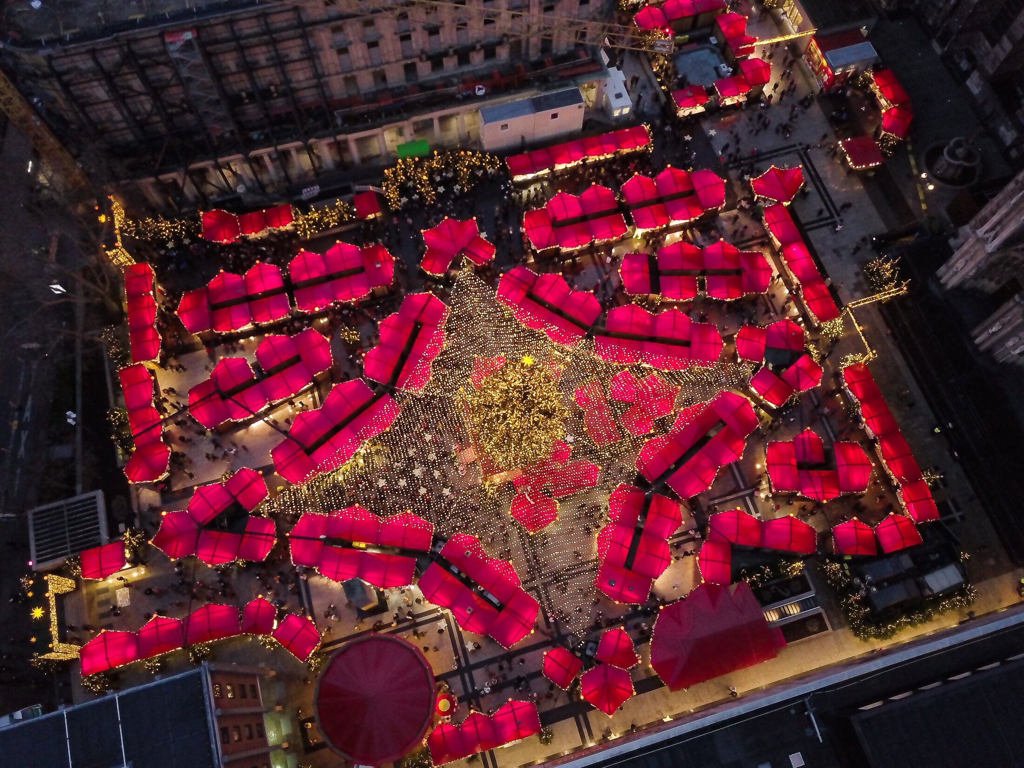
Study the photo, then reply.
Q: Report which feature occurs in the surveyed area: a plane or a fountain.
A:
fountain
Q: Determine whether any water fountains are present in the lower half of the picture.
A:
No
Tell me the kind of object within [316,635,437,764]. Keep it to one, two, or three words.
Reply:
tent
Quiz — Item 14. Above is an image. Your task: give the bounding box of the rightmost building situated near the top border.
[892,0,1024,182]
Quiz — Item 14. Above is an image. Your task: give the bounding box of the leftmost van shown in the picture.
[603,68,632,127]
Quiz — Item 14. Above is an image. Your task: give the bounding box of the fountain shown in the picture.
[916,131,991,194]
